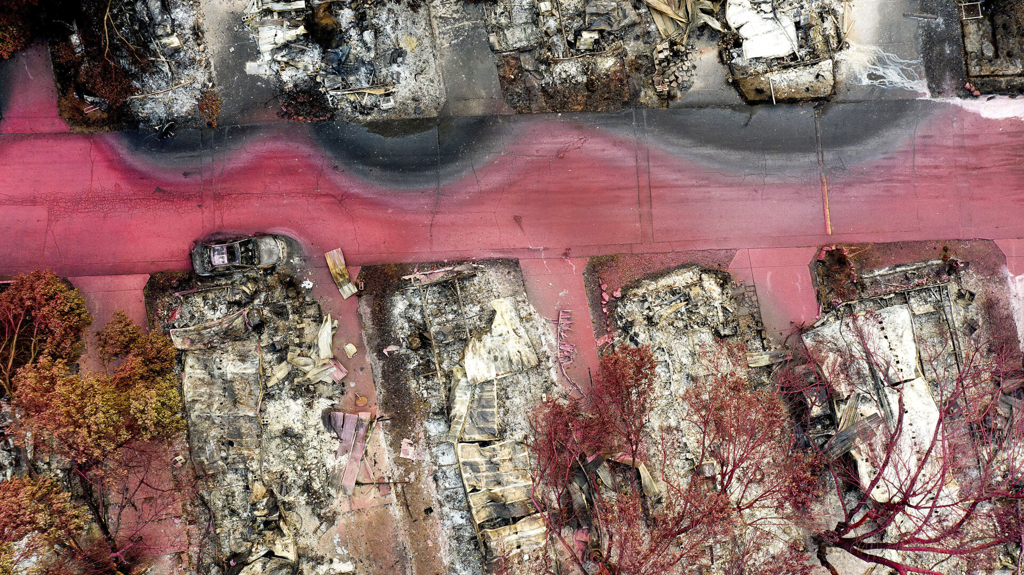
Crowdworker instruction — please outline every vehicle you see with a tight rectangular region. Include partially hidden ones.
[189,233,290,276]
